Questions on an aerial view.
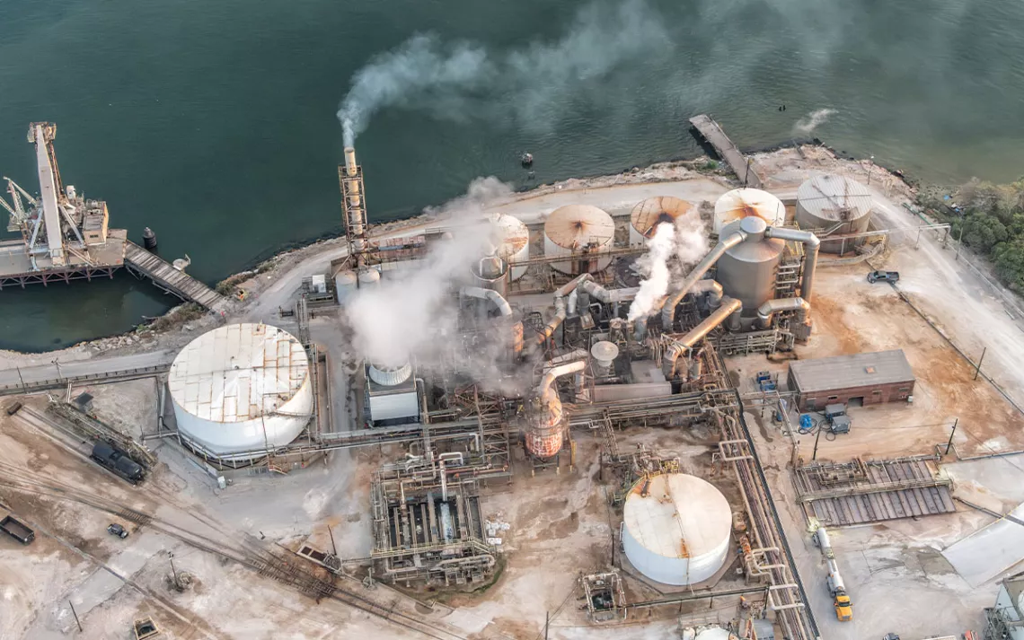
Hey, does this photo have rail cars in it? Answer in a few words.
Yes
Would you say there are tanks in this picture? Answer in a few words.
Yes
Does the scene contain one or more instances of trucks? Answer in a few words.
Yes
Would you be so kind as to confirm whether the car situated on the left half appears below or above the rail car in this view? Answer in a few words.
below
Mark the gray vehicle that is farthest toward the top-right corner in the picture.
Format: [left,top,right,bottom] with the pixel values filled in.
[866,271,901,285]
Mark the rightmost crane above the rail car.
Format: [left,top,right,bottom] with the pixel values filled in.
[21,124,110,270]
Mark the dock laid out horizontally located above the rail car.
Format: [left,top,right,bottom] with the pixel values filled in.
[0,230,133,288]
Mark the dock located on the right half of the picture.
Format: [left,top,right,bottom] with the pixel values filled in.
[689,113,763,186]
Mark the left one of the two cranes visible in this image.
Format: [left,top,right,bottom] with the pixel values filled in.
[0,175,41,236]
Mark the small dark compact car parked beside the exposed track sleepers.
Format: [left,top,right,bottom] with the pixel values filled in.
[102,516,132,540]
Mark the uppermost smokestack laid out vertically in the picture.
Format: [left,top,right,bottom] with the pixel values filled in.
[333,142,370,265]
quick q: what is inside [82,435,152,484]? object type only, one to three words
rail car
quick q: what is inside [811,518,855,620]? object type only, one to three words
truck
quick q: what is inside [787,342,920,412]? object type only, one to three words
building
